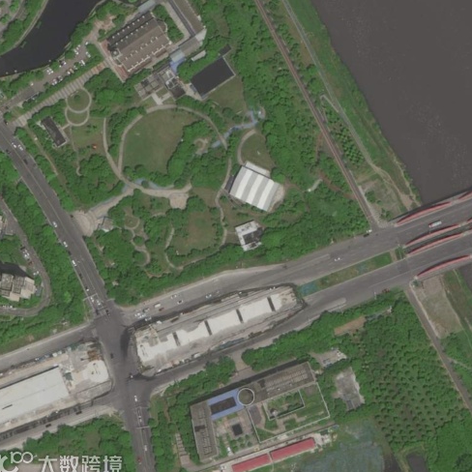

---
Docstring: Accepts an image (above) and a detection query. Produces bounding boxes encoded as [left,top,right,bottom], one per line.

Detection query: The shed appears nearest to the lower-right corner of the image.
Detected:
[270,437,317,461]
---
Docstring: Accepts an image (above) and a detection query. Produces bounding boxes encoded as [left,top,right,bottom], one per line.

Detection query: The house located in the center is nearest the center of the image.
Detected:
[235,220,264,252]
